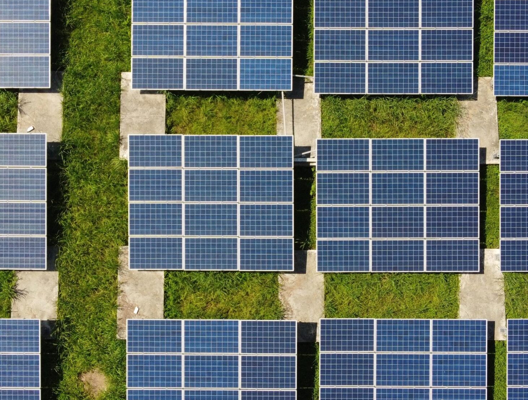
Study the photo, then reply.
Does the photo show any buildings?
No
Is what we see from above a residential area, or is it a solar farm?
solar farm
